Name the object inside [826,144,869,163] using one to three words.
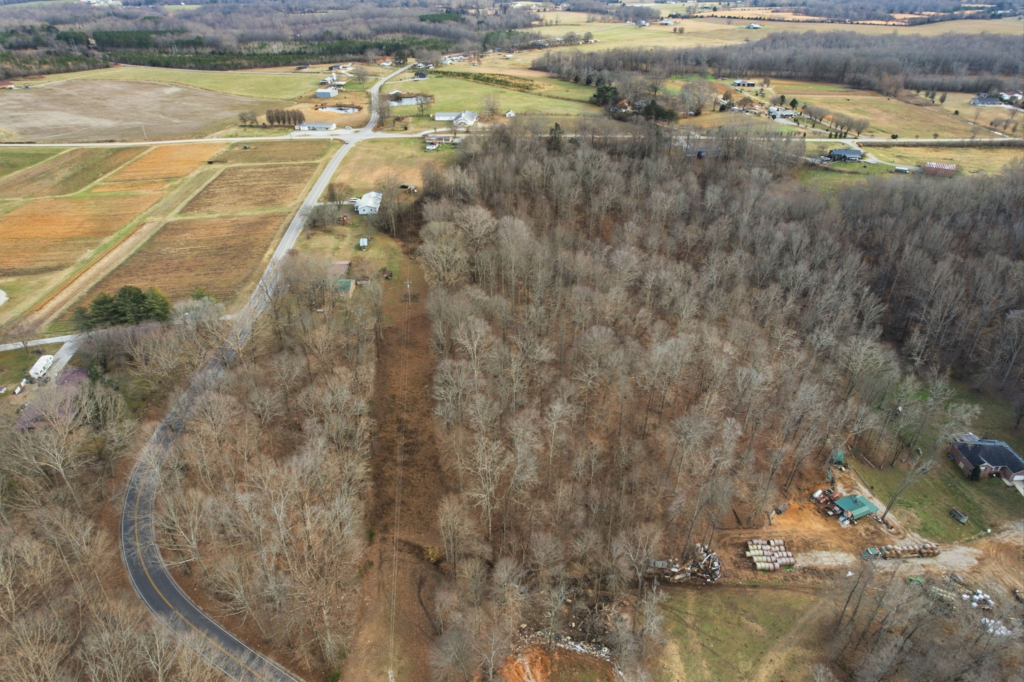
house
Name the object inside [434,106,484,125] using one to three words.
building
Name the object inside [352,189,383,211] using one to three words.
house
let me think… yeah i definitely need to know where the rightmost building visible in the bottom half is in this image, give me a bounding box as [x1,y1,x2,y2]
[948,435,1024,484]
